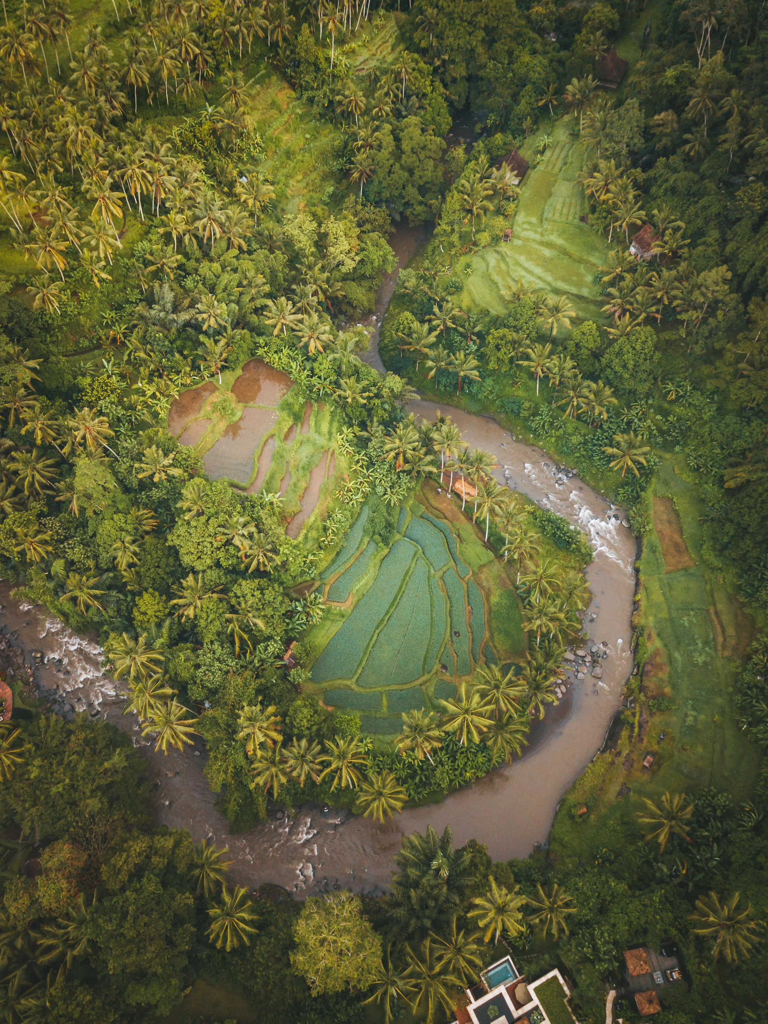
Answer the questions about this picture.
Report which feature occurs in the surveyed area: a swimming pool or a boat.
swimming pool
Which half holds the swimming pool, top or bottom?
bottom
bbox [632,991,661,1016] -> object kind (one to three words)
building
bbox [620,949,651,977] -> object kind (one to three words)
building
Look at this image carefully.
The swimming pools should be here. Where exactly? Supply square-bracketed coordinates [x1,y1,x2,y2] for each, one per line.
[478,955,524,993]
